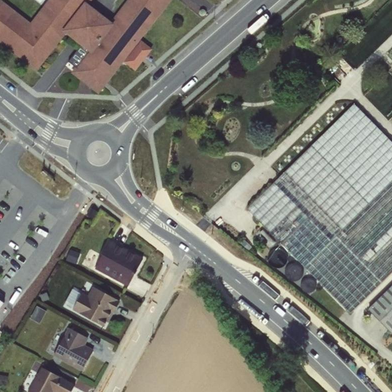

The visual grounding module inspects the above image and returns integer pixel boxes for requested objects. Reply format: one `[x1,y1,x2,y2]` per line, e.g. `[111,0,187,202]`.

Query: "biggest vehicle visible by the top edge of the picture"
[246,14,268,34]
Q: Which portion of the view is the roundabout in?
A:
left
